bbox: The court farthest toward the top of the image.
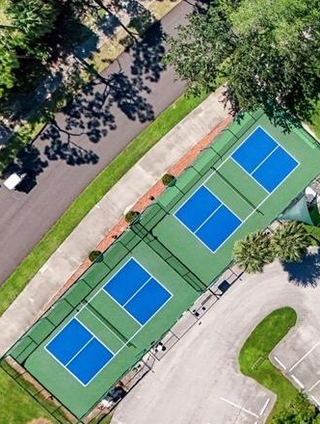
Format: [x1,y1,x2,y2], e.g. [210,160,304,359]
[137,97,320,286]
